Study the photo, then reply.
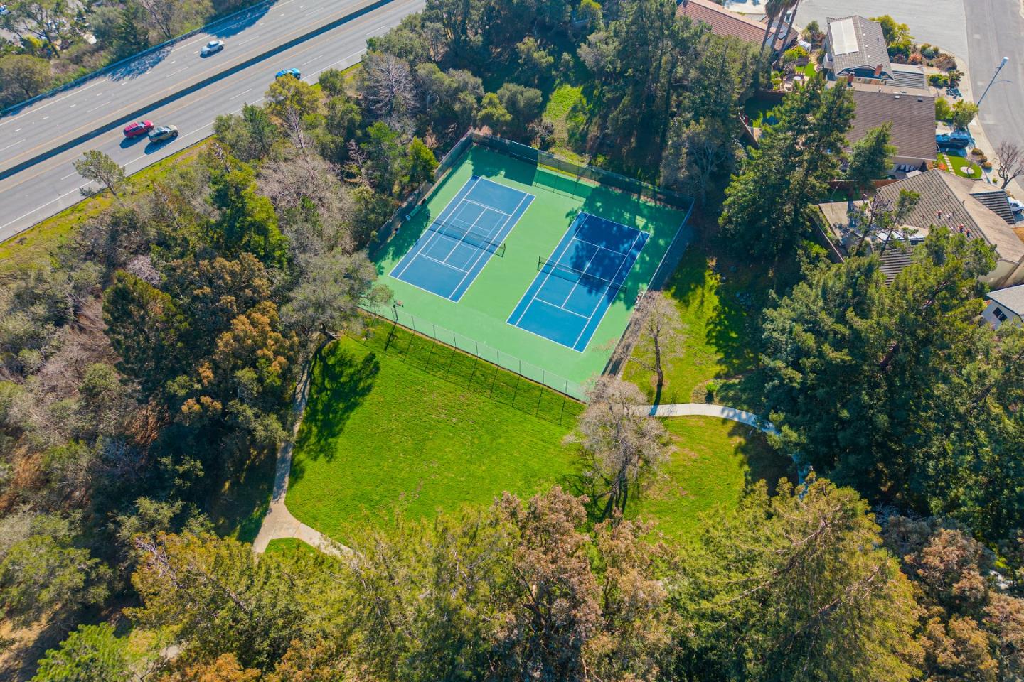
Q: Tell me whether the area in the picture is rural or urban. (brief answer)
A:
rural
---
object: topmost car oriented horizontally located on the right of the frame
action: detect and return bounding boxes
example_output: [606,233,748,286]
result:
[936,133,971,149]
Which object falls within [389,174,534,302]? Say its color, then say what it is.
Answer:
blue tennis court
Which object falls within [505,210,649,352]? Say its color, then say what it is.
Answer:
blue tennis court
